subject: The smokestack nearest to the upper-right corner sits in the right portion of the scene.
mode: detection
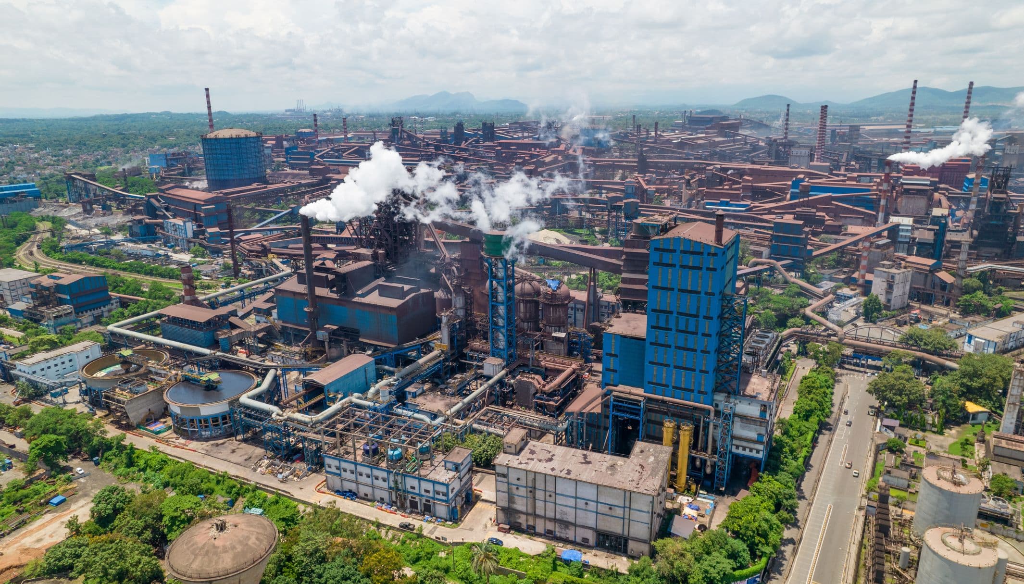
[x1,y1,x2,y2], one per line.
[959,82,974,144]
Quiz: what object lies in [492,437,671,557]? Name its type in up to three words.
building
